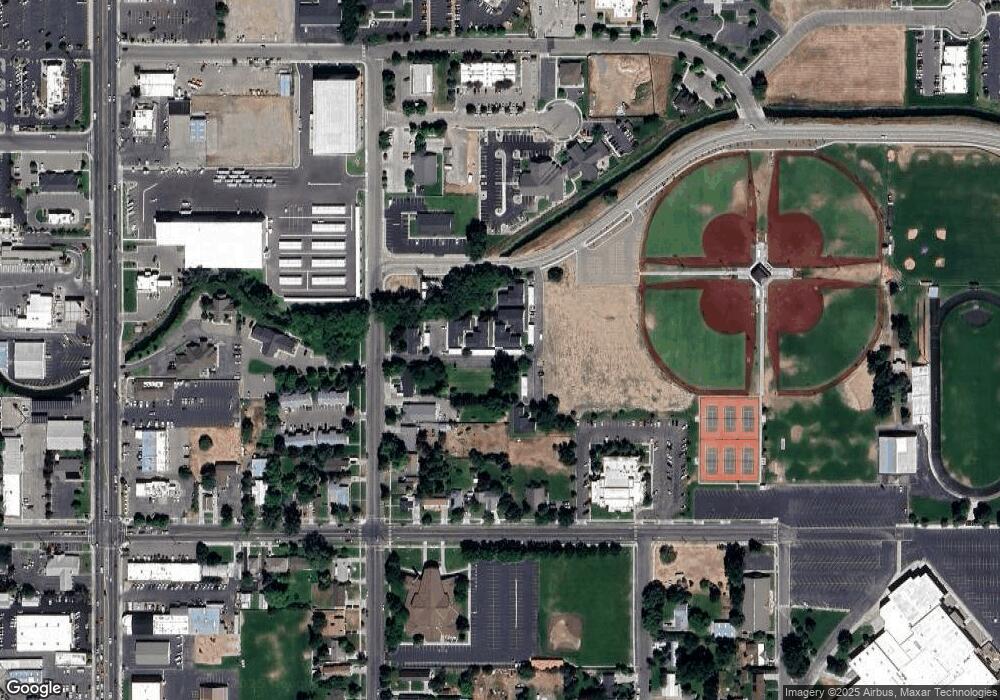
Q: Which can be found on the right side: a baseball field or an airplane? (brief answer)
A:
baseball field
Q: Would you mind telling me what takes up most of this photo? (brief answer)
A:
paved ground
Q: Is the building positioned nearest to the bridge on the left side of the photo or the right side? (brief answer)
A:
right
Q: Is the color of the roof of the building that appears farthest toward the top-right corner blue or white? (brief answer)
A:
white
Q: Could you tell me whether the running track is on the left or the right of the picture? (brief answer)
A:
right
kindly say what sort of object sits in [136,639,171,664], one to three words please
building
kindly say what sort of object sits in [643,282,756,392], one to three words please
baseball field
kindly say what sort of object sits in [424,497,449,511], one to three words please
house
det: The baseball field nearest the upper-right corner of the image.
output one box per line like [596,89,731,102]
[769,154,881,266]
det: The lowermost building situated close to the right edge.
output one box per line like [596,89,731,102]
[846,570,1000,700]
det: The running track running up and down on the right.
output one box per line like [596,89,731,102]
[930,288,1000,498]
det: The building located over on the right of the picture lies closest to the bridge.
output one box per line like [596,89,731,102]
[670,84,696,109]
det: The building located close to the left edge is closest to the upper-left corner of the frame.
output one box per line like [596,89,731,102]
[47,62,69,105]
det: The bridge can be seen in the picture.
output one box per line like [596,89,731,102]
[735,96,767,121]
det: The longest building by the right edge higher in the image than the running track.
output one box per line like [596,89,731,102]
[942,44,968,93]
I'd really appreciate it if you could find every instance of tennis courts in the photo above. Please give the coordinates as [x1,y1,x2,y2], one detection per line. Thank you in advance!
[707,447,718,474]
[706,406,718,432]
[725,447,735,474]
[742,447,754,474]
[724,406,735,432]
[742,406,754,432]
